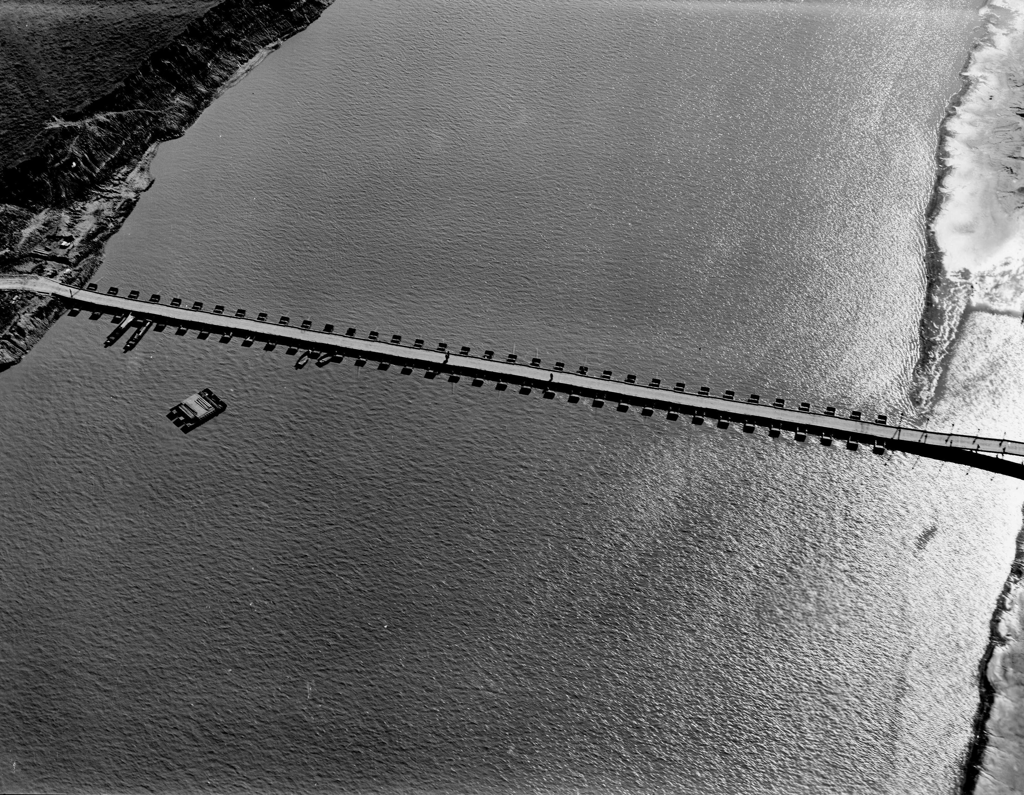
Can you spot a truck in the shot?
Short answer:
No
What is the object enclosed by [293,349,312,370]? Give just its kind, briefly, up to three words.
boat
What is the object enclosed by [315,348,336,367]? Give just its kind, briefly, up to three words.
boat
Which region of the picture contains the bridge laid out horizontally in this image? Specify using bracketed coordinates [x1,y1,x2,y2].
[32,277,1024,463]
